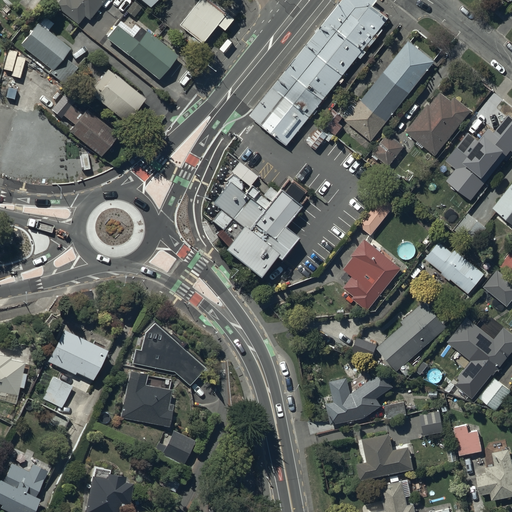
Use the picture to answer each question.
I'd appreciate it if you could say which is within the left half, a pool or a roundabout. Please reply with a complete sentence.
What appears within the left half is a roundabout.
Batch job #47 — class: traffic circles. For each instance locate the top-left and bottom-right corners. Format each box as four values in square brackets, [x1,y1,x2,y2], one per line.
[86,198,146,258]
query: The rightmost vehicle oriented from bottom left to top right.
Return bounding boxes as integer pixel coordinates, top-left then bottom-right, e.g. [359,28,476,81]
[470,116,485,132]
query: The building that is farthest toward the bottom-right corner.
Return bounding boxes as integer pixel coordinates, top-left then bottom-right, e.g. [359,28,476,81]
[476,450,512,501]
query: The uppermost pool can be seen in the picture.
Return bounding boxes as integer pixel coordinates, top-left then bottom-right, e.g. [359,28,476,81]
[396,240,415,260]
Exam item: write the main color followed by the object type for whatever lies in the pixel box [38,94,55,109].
white car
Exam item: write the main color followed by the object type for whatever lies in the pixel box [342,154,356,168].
white car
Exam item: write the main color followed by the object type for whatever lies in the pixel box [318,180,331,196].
white vehicle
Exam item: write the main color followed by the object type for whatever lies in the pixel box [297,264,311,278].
gray car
